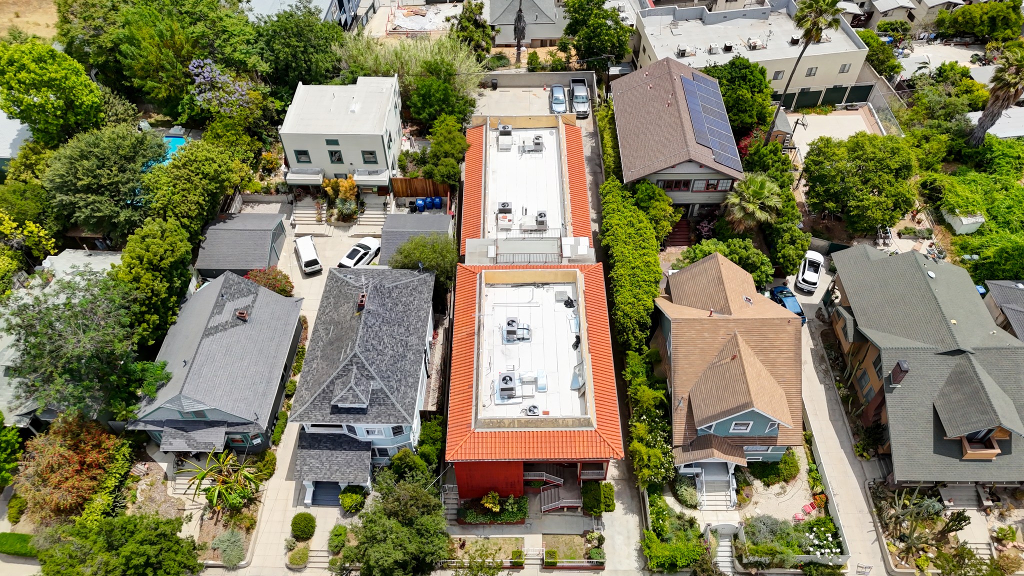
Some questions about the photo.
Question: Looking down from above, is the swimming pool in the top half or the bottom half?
top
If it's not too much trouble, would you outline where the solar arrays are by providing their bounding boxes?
[685,74,740,167]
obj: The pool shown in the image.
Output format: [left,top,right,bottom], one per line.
[80,139,190,214]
